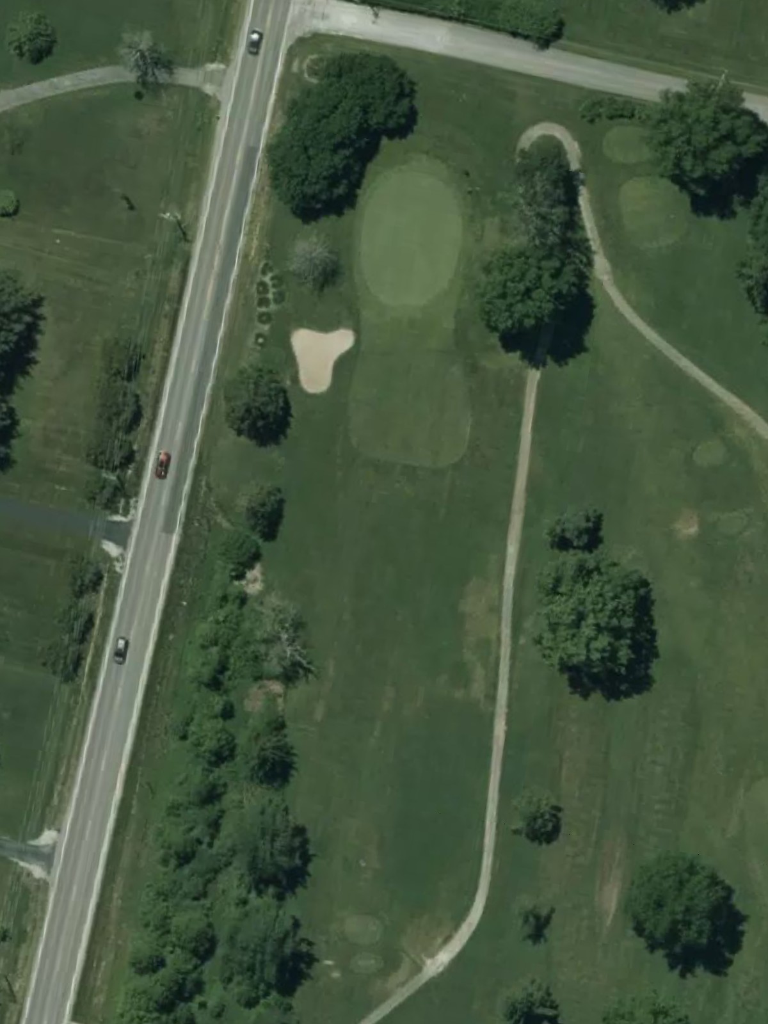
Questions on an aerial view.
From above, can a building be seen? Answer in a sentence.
No, I can't see a single building in this photo.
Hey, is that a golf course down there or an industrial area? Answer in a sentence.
This image shows a golf course.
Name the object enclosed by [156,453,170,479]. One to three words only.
car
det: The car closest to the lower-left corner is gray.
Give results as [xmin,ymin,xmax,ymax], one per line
[113,638,127,664]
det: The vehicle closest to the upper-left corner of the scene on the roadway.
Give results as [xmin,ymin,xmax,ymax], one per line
[248,28,261,55]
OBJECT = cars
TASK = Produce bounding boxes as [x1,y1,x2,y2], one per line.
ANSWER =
[156,453,170,479]
[113,638,127,664]
[248,28,261,55]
